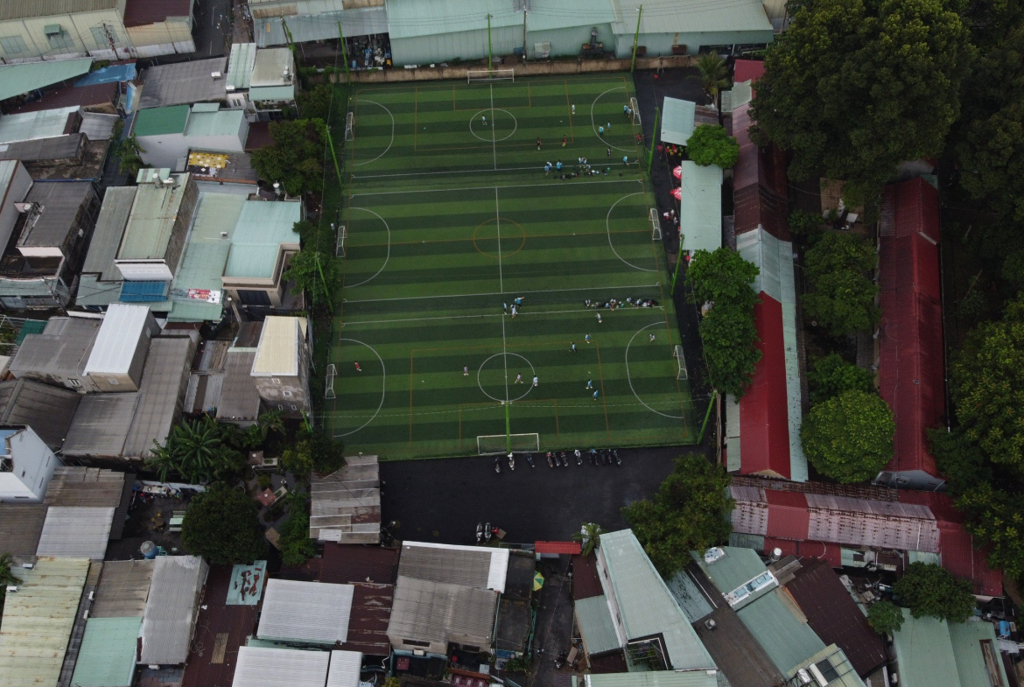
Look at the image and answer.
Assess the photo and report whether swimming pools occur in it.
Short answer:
No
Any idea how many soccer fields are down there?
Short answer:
three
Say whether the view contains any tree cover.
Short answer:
Yes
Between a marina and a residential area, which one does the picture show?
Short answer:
residential area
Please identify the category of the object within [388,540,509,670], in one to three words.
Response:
house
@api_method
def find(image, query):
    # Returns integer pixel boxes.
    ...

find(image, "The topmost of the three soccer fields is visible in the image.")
[341,71,649,186]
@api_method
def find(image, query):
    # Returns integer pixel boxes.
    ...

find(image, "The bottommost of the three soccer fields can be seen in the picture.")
[321,296,697,460]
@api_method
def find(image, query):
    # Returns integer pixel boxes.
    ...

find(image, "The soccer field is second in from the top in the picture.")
[331,171,671,312]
